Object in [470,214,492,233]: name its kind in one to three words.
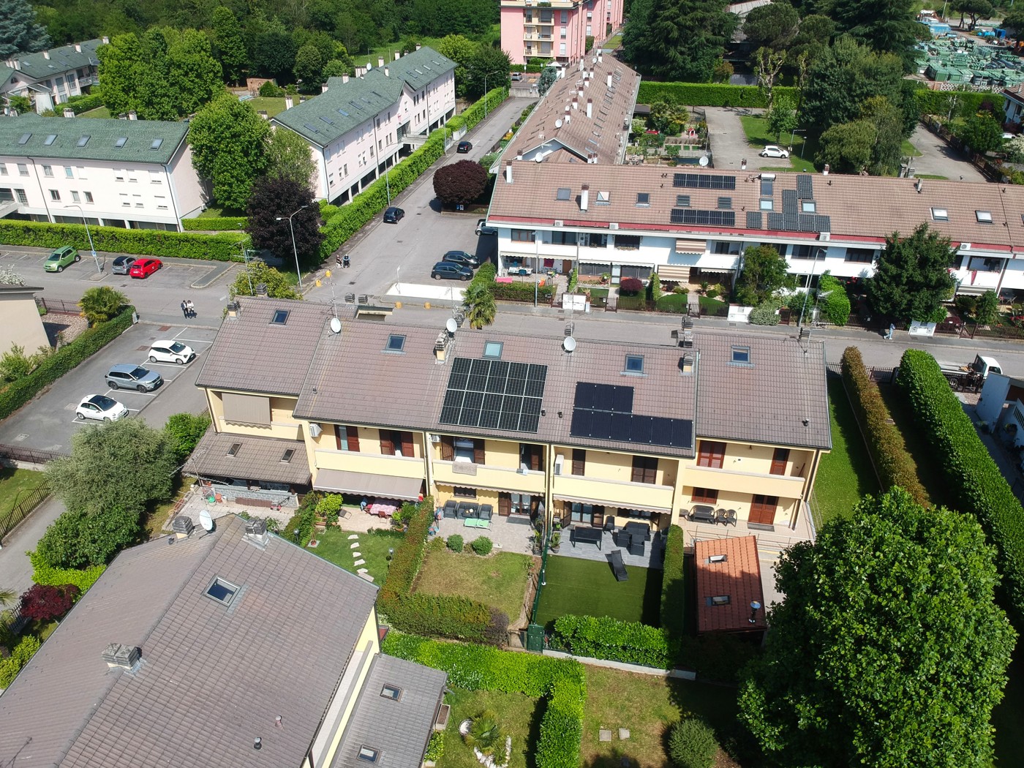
car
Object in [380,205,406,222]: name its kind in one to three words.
car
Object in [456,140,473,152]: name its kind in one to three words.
vehicle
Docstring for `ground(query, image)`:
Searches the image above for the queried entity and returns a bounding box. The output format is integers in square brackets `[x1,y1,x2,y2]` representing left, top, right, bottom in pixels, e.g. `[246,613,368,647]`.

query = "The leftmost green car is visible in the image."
[37,244,82,271]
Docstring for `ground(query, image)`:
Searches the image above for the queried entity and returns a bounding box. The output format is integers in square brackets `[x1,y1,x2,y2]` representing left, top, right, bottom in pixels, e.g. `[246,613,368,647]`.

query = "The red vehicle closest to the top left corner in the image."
[126,254,168,276]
